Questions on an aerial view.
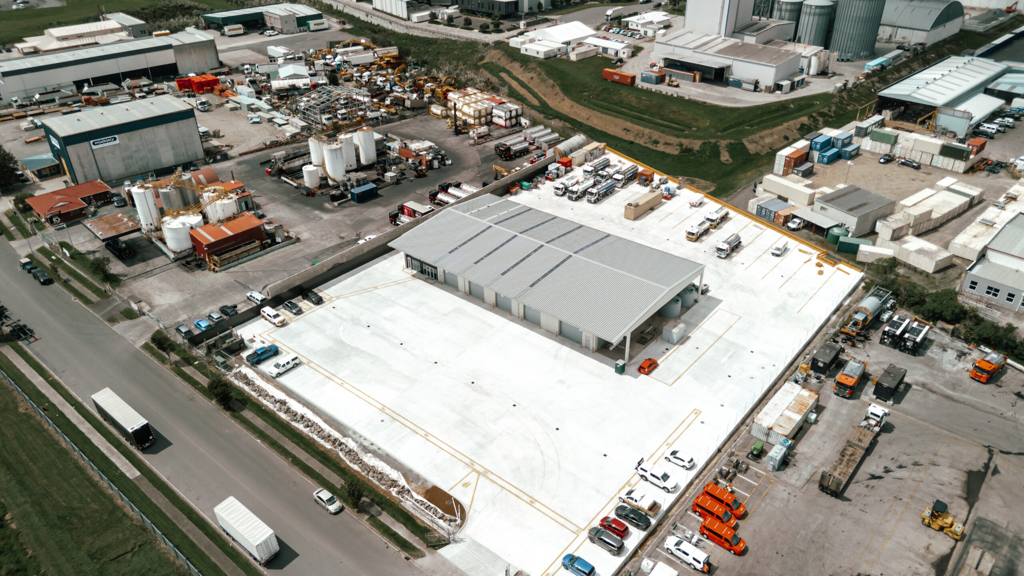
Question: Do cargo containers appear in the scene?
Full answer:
Yes, I can see a cargo container in this picture.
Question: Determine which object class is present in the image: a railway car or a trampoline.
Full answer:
Of the two, only a railway car appears.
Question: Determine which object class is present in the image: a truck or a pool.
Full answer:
There is a truck in the scene.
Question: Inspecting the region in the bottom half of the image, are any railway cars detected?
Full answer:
No, there is no railway car in the bottom half of the image.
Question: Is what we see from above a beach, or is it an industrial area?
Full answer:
What you see here is an industrial area.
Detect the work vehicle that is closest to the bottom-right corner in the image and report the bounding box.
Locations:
[918,501,969,540]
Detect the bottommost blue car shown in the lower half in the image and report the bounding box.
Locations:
[558,551,599,576]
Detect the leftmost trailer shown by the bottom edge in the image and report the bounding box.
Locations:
[214,496,279,565]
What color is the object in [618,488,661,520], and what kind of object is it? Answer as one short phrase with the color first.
white truck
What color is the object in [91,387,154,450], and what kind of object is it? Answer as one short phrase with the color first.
white trailer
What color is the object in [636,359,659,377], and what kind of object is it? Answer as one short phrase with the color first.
red car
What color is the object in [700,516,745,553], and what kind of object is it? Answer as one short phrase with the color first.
orange van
